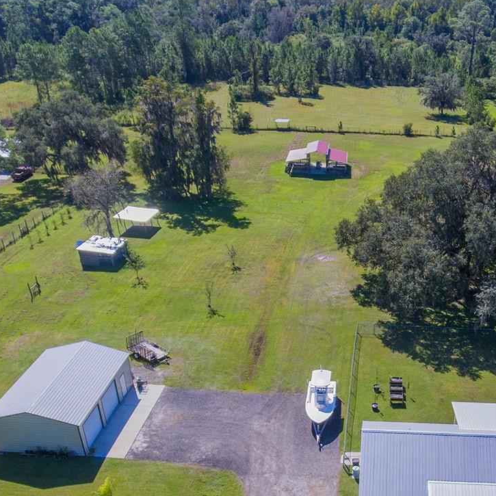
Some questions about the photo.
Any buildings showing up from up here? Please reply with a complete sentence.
Yes, you can see a building in this photo.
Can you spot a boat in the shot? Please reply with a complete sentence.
Yes, a boat can be made out from above.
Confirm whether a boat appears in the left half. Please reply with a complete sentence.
No, I see no boat in the left half.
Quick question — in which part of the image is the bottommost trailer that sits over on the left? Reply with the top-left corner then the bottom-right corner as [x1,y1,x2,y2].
[124,330,169,369]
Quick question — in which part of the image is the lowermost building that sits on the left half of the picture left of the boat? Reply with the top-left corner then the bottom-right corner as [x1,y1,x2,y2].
[0,342,133,454]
